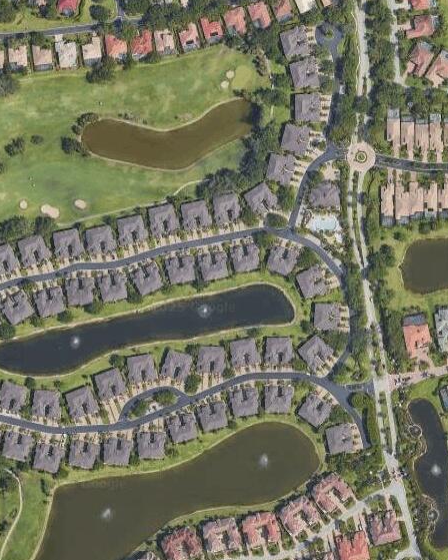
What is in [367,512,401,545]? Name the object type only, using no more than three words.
house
